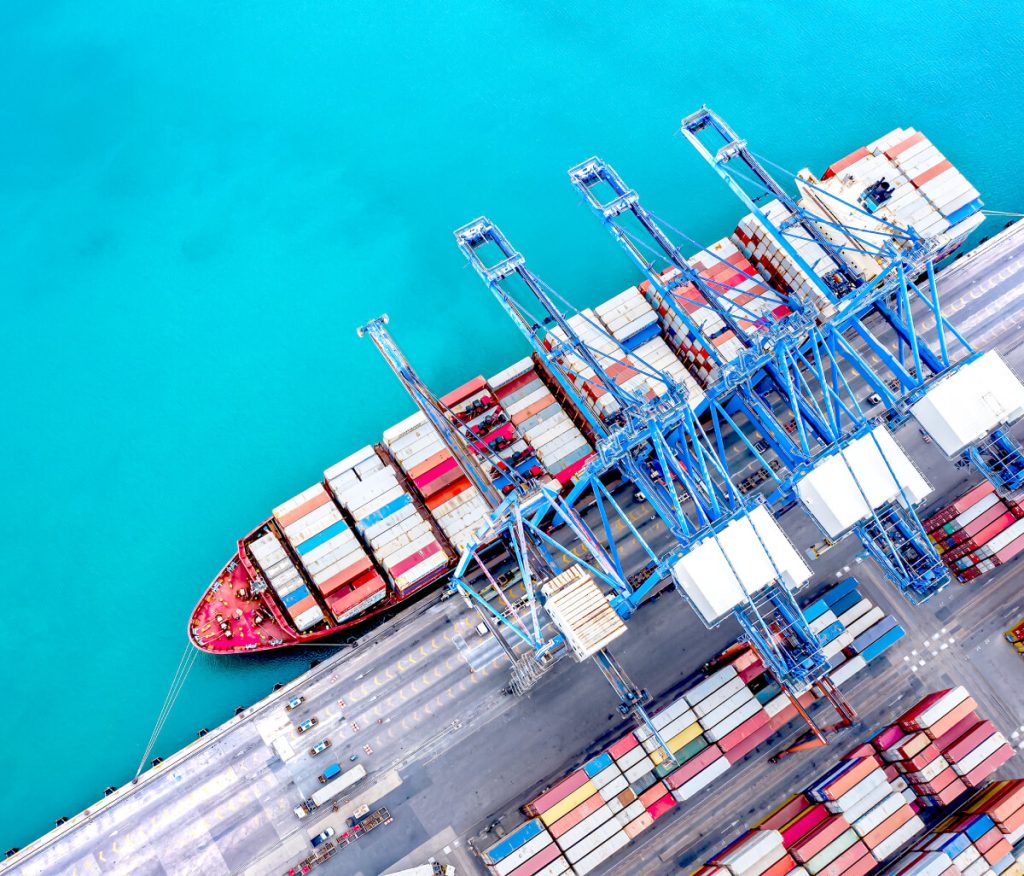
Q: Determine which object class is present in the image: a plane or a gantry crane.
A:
gantry crane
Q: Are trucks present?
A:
Yes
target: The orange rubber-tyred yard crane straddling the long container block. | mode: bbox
[710,621,858,764]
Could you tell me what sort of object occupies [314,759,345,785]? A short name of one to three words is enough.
truck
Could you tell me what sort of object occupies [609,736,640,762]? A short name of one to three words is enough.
shipping container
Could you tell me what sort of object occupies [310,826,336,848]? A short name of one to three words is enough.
truck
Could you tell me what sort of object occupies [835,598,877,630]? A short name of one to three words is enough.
shipping container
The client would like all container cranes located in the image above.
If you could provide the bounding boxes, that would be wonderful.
[451,209,838,703]
[567,150,958,616]
[710,621,858,764]
[356,305,691,776]
[682,100,1024,534]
